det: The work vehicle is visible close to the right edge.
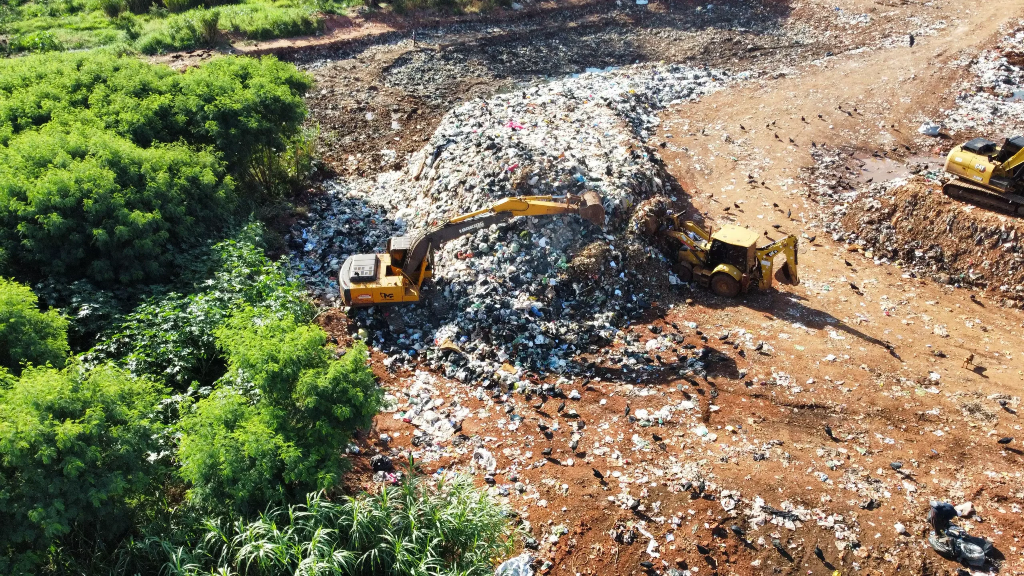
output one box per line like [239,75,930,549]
[944,141,1024,218]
